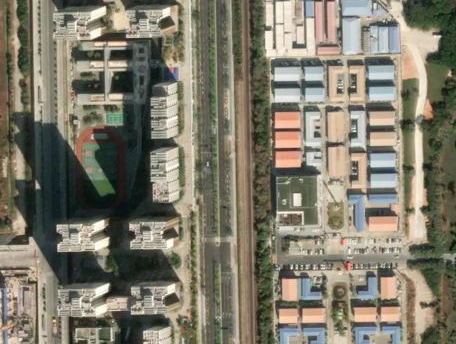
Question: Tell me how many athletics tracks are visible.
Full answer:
The picture shows 1 athletics track.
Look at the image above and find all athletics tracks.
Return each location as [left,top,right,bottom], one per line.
[75,126,126,208]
